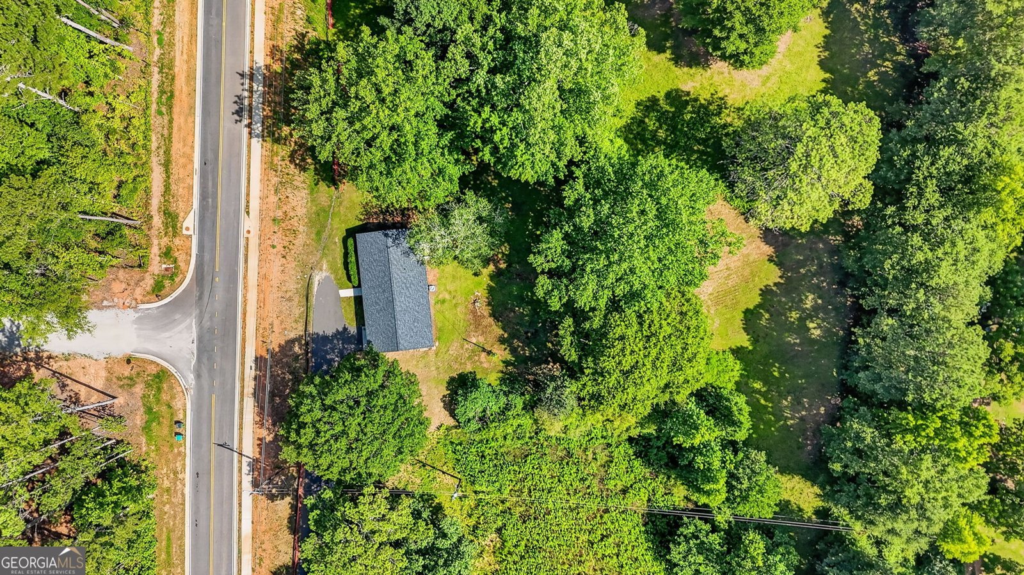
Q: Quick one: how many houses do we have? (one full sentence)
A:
The photo contains exactly 1 house.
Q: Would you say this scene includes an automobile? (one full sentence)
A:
No, the picture doesn't show any automobile.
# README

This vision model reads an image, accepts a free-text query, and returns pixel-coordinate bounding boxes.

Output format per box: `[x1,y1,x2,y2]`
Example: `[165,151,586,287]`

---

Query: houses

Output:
[355,228,434,353]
